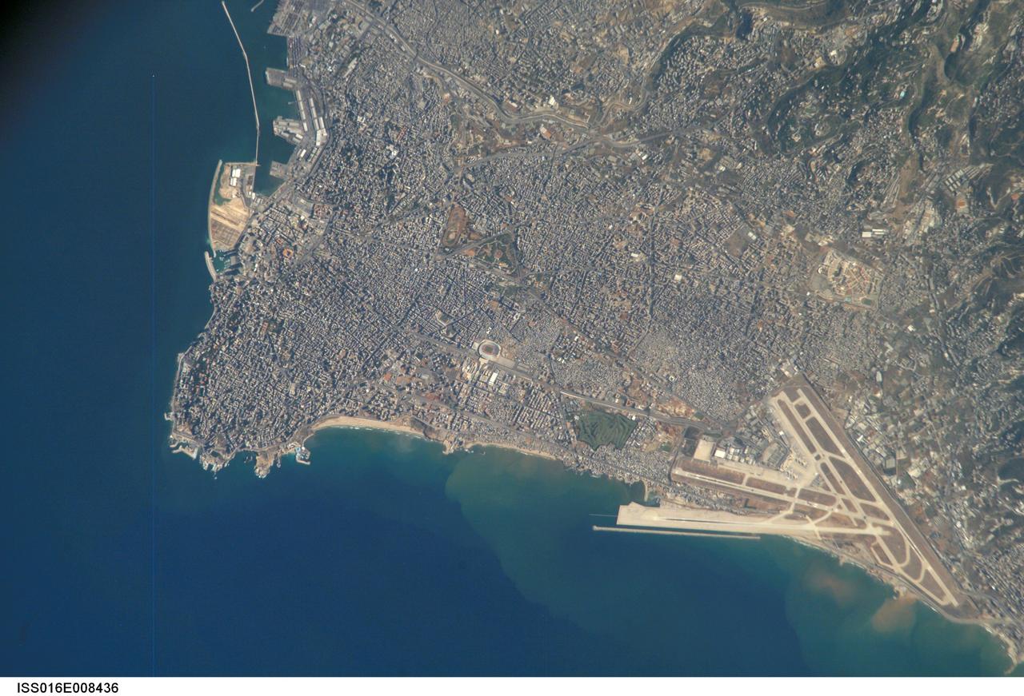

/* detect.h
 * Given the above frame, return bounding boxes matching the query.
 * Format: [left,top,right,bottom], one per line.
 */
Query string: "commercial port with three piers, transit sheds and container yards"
[266,0,322,188]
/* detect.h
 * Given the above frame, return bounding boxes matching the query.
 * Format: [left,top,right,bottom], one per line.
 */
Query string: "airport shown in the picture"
[617,373,979,620]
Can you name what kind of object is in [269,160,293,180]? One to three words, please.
pier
